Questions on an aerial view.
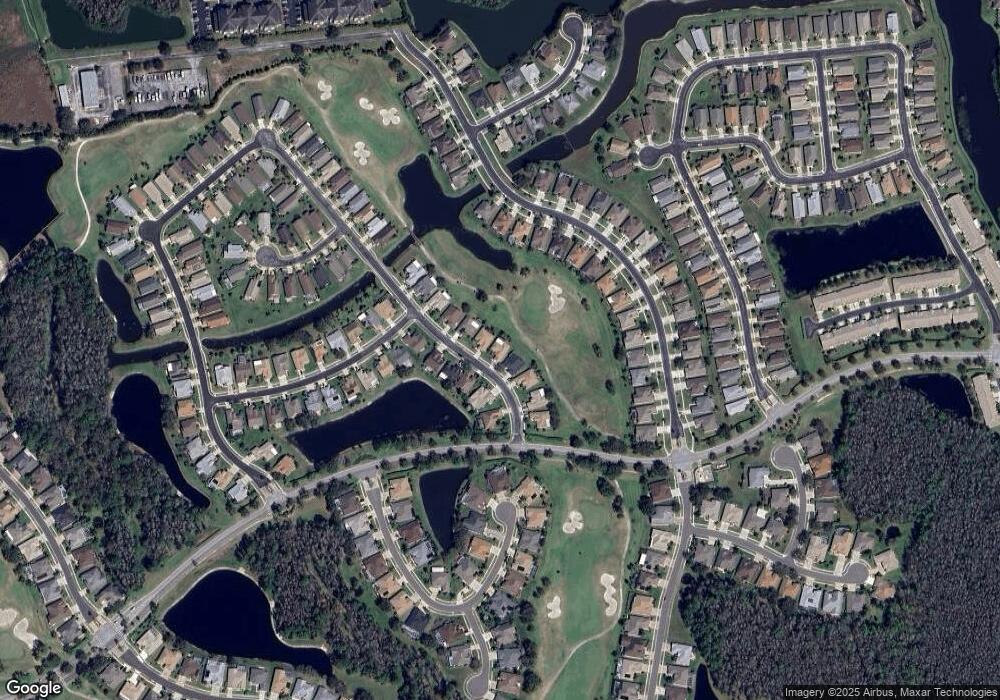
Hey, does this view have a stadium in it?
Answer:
No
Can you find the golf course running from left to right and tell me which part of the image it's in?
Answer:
top left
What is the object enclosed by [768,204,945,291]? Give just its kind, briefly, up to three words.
pond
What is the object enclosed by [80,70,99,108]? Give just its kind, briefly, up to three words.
building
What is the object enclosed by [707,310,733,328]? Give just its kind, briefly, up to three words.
house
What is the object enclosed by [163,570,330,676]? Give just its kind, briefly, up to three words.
pond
